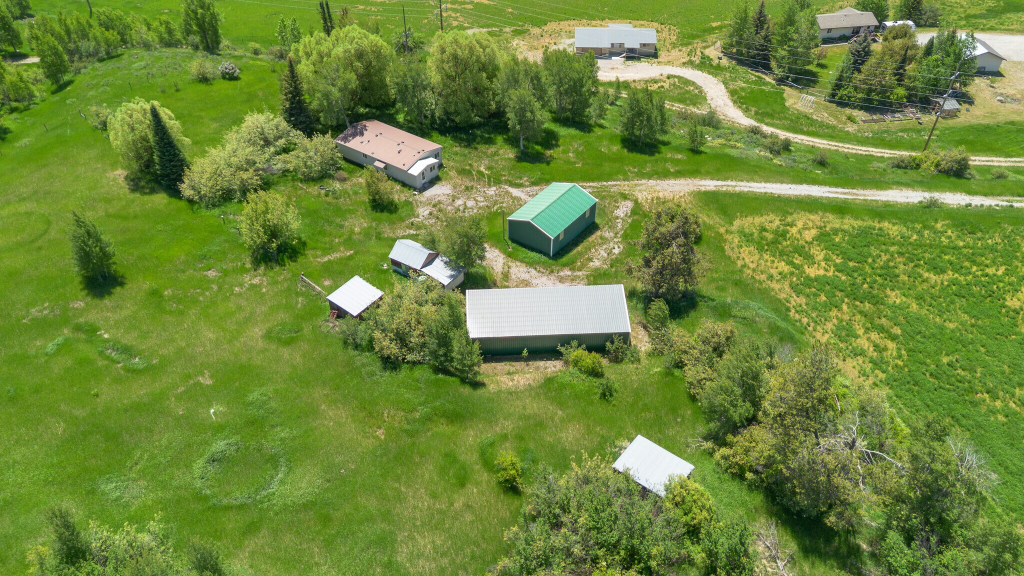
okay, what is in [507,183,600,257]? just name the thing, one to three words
shed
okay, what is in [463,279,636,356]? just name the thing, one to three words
barn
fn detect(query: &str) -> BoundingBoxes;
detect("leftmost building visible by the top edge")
[572,14,658,62]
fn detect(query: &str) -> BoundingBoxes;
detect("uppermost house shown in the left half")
[335,121,444,189]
